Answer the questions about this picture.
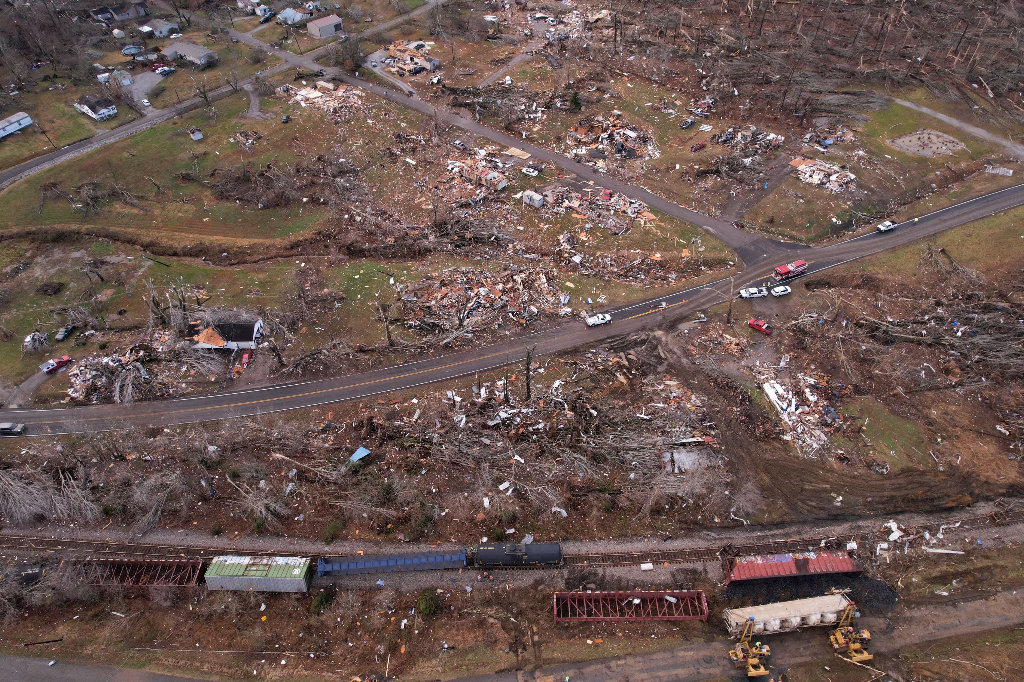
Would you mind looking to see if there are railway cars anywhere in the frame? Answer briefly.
Yes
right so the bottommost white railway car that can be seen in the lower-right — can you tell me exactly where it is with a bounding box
[727,583,871,634]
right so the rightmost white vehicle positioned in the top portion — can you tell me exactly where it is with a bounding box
[875,218,899,230]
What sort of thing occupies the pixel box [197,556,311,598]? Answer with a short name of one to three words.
rail car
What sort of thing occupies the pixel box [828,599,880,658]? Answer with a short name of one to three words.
work vehicle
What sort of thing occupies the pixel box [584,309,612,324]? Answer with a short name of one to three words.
vehicle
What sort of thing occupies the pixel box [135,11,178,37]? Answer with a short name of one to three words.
house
